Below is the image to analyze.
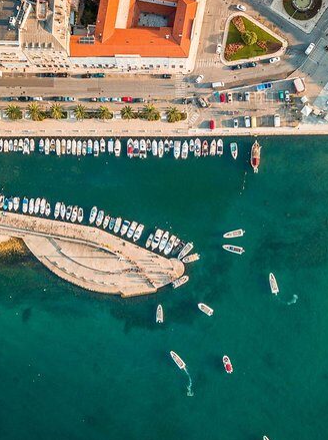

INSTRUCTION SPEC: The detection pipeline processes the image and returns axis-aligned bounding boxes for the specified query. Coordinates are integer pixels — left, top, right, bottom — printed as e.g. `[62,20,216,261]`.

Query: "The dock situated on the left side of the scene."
[0,210,185,297]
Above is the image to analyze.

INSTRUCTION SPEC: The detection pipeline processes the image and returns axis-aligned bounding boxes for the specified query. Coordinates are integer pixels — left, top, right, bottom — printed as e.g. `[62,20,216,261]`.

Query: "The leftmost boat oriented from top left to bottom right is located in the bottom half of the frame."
[170,351,187,370]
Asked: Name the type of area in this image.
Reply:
port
